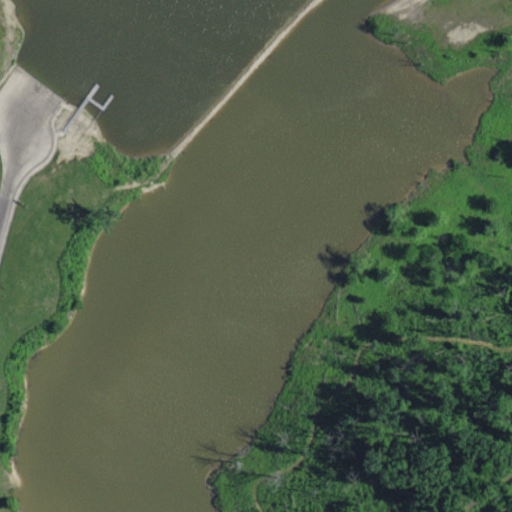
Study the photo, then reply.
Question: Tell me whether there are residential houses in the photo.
No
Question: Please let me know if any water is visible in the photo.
Yes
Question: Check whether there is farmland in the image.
No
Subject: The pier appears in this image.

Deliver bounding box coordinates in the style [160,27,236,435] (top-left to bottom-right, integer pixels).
[61,84,114,138]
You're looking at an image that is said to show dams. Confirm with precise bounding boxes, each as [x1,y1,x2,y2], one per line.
[160,0,330,170]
